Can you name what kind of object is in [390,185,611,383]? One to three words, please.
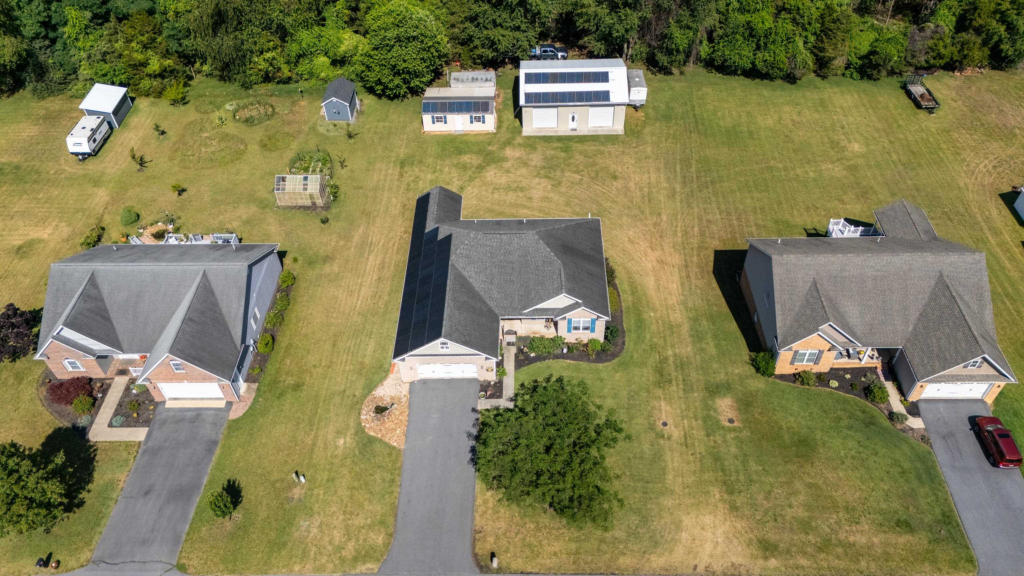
house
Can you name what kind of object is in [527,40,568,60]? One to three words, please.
vehicle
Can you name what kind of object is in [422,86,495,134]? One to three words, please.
shed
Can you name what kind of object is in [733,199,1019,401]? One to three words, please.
house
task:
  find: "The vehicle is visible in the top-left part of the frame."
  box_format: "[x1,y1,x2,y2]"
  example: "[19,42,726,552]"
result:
[66,117,111,164]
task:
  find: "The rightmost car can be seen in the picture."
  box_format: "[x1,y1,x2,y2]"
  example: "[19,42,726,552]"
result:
[973,414,1024,471]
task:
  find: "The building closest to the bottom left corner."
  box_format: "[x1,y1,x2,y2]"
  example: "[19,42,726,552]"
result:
[33,241,284,404]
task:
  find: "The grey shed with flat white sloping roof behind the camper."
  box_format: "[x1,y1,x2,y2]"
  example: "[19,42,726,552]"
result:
[79,83,132,128]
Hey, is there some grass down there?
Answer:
Yes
